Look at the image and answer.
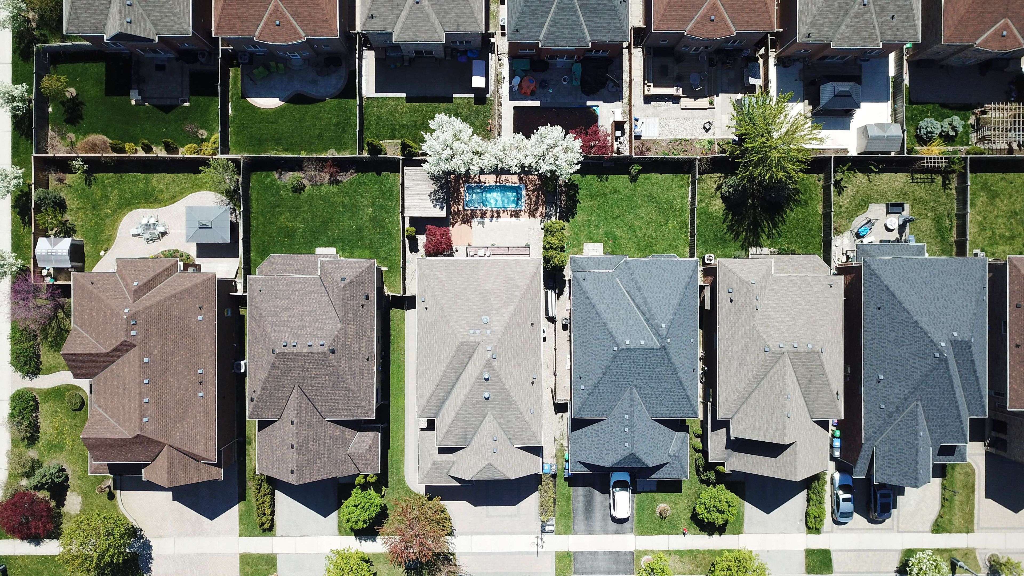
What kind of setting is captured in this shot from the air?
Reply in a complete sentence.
The area seen from above is a residential area.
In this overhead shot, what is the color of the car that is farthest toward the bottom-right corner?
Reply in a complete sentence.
From above, the car that is farthest toward the bottom-right corner appears black.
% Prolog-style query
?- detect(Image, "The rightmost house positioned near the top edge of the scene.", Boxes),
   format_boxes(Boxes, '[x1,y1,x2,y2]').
[911,0,1024,67]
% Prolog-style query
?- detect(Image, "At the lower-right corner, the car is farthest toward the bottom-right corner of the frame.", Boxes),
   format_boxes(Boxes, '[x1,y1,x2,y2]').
[865,473,891,522]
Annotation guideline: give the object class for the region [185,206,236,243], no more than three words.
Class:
gazebo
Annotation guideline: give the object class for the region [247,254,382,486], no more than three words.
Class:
house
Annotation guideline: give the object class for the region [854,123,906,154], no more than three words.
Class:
shed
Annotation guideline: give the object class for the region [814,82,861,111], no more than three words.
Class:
gazebo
